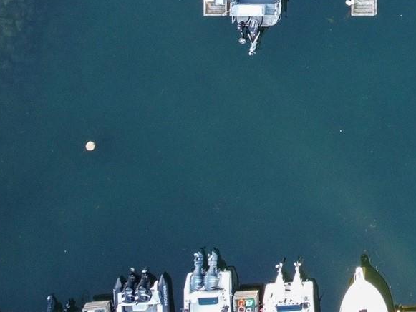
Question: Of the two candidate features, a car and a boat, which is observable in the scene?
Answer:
boat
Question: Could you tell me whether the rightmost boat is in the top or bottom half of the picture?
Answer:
bottom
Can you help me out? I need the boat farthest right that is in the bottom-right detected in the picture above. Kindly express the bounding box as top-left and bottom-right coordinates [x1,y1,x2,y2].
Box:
[340,266,388,312]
